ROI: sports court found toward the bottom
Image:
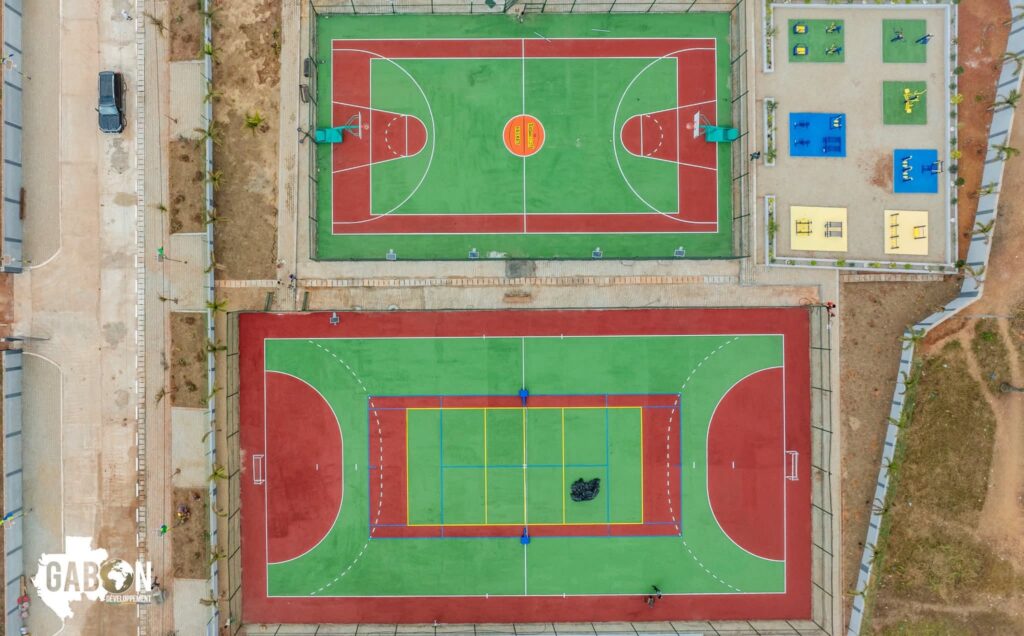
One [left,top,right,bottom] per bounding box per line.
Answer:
[239,309,812,624]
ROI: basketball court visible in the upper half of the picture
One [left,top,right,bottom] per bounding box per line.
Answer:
[317,12,733,260]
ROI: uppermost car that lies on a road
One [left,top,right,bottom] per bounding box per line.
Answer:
[93,72,127,133]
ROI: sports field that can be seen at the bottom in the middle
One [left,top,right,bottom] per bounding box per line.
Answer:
[265,336,785,596]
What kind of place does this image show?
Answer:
sports ground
